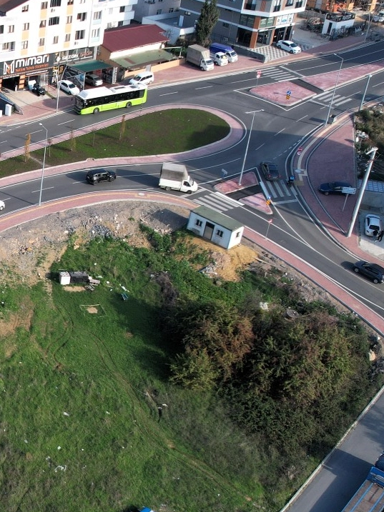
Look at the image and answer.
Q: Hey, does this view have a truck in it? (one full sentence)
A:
Yes, you can see a truck in this photo.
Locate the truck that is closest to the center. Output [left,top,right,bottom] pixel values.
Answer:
[155,164,203,194]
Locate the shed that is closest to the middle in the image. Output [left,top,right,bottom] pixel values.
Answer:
[187,200,252,246]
